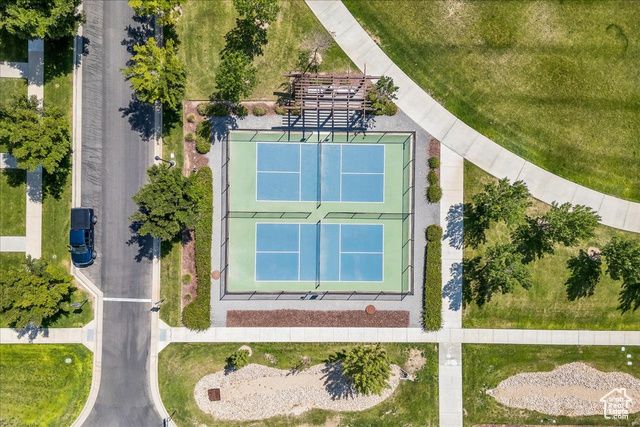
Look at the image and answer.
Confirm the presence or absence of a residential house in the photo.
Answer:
No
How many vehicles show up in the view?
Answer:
1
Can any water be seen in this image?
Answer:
No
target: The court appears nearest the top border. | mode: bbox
[230,133,410,214]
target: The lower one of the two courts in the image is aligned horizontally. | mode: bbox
[229,213,409,291]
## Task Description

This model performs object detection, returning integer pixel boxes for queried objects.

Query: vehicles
[68,208,96,267]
